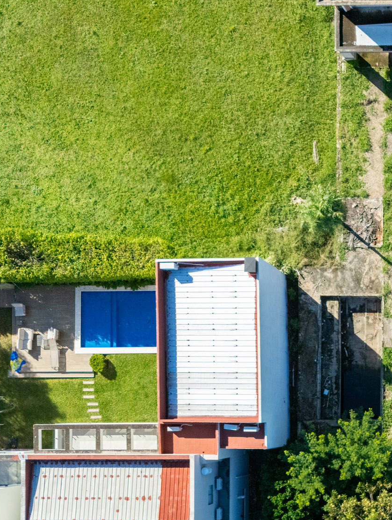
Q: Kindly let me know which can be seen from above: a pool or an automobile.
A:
pool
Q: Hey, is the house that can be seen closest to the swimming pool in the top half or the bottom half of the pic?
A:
bottom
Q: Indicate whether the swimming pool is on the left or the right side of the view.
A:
left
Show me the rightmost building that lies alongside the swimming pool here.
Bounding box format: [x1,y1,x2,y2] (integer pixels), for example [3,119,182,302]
[157,257,293,454]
